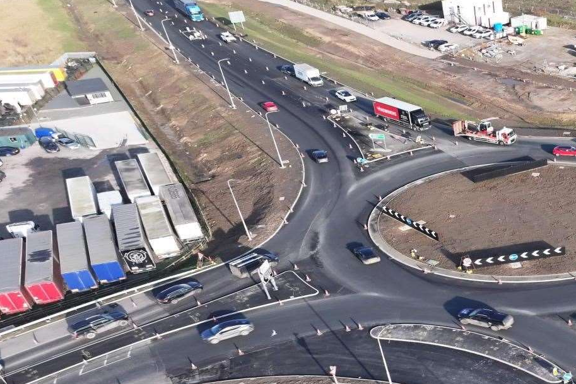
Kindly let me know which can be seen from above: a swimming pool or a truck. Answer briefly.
truck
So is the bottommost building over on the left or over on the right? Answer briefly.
left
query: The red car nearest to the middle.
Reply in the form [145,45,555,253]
[259,97,277,110]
